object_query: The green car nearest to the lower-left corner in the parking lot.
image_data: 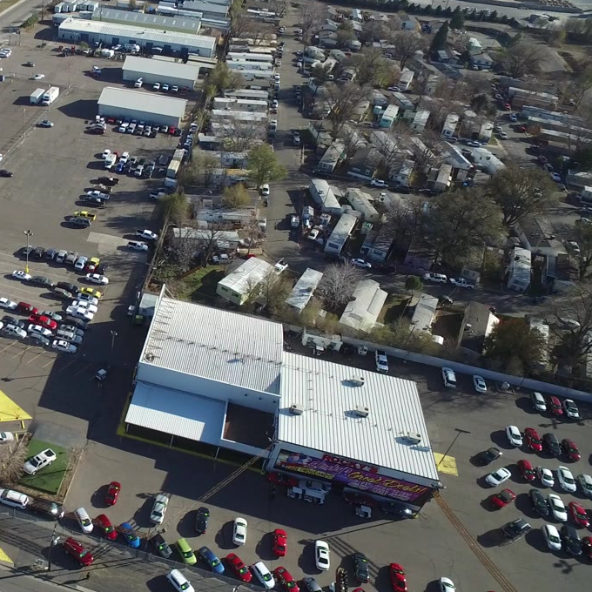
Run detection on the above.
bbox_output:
[173,538,197,567]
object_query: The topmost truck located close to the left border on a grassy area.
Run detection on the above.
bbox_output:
[21,448,58,472]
